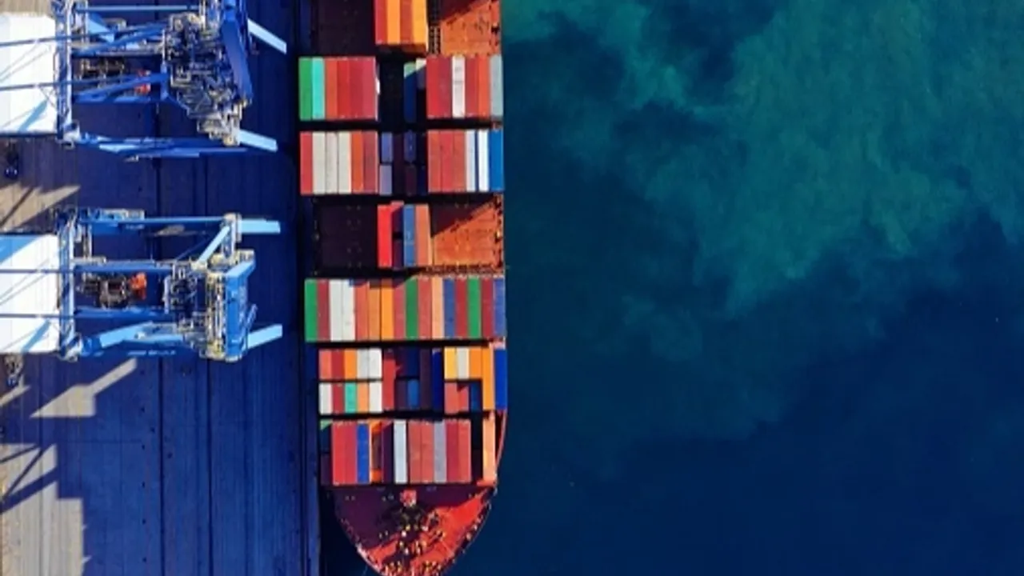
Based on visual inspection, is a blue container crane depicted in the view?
Yes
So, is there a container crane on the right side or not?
No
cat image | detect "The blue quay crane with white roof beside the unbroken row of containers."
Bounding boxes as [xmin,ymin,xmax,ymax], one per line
[0,203,304,373]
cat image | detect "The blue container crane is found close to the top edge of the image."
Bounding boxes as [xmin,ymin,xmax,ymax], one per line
[0,0,302,182]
